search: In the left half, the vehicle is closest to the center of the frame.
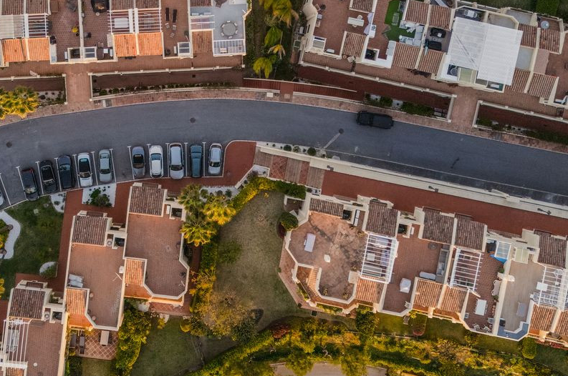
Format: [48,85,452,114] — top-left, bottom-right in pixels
[207,143,224,176]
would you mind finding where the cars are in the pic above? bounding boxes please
[189,144,205,177]
[207,143,224,176]
[356,110,394,128]
[97,150,114,183]
[148,144,164,176]
[169,143,184,180]
[77,153,94,186]
[56,154,74,190]
[131,145,146,177]
[38,158,57,193]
